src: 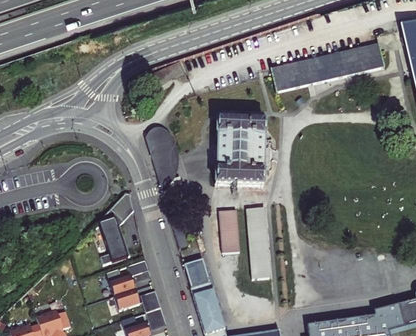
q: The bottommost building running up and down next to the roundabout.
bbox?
[102,217,128,266]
